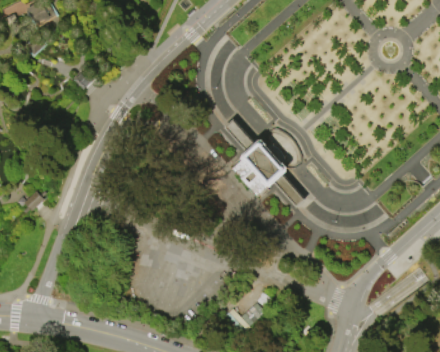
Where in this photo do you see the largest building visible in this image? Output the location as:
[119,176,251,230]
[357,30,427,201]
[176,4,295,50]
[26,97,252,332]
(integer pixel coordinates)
[235,140,287,193]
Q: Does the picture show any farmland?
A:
No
